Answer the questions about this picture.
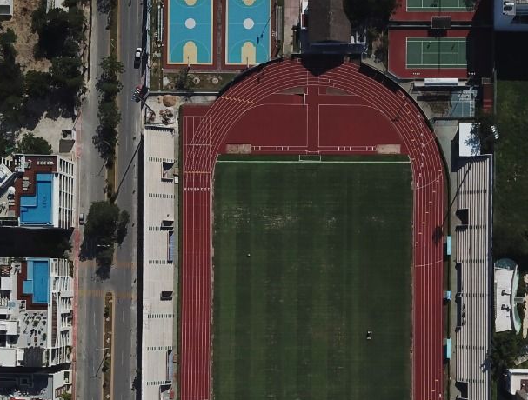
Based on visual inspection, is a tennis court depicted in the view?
Yes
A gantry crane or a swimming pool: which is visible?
swimming pool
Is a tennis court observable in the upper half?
Yes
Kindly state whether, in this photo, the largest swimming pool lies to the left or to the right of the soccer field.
to its left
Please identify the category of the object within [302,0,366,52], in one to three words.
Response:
building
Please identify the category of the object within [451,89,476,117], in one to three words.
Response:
sports court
